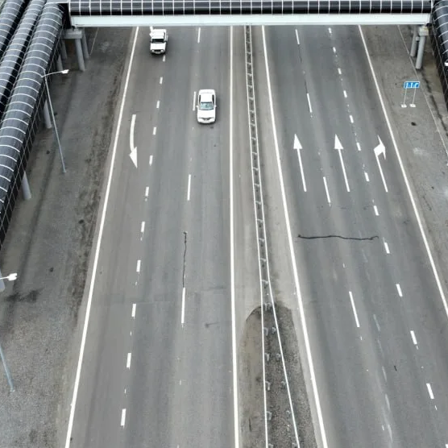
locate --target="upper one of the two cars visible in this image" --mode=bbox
[148,28,168,55]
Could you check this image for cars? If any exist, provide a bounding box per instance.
[148,28,168,55]
[195,89,217,123]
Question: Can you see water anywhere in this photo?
No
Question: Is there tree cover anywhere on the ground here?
No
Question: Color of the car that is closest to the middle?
white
